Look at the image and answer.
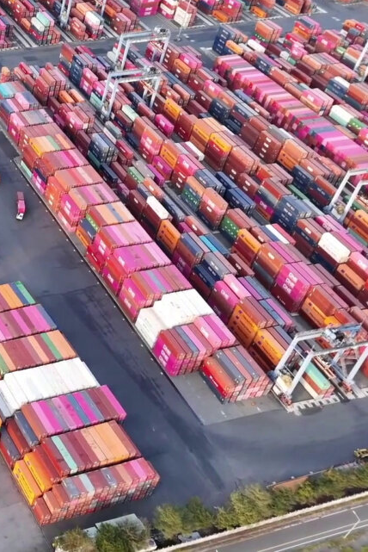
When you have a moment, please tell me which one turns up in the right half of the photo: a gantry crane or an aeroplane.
gantry crane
